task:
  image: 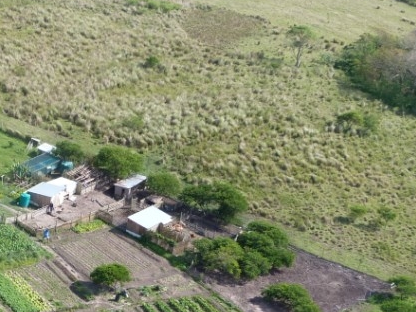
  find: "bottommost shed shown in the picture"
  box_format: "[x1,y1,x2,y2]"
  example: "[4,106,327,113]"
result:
[128,205,172,243]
